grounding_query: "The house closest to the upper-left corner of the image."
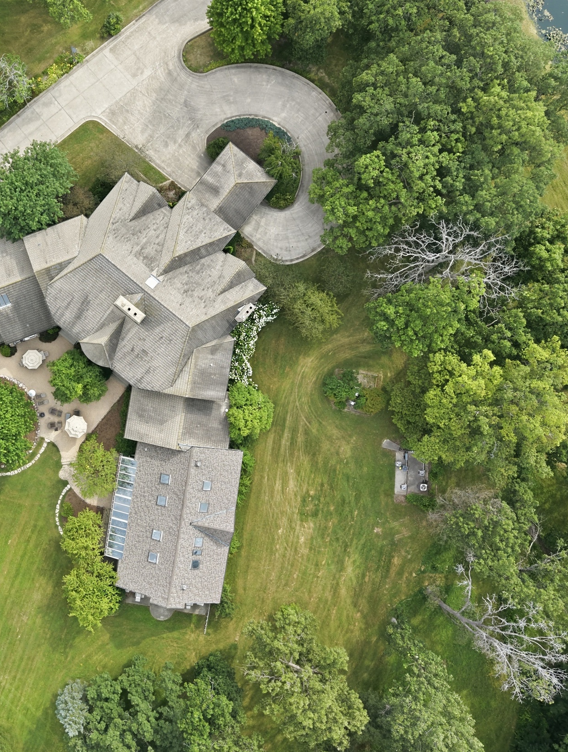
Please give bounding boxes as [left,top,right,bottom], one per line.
[0,142,277,449]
